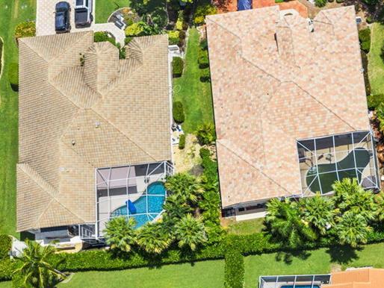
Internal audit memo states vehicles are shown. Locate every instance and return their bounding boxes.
[236,0,256,10]
[72,0,97,31]
[50,0,75,34]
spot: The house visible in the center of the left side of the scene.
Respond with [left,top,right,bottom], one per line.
[16,30,176,232]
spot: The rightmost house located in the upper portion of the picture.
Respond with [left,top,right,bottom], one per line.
[205,5,370,210]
